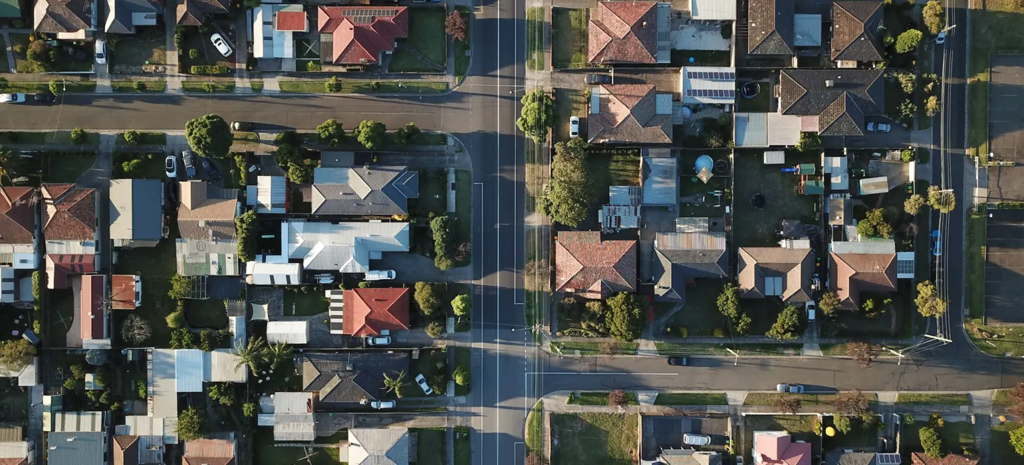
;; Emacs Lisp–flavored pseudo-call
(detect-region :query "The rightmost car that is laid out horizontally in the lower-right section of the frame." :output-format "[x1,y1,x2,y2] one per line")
[775,382,804,394]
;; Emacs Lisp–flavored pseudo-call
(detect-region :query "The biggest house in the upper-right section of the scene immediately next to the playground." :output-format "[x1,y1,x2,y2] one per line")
[731,69,885,147]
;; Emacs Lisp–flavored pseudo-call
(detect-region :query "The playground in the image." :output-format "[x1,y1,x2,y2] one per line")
[781,164,824,194]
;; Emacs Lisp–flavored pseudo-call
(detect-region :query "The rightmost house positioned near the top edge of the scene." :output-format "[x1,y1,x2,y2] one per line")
[828,0,893,68]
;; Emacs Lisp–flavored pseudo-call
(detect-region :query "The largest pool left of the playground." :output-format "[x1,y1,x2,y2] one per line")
[694,154,713,172]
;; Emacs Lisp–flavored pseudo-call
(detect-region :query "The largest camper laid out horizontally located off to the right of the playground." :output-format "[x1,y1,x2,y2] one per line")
[850,177,887,193]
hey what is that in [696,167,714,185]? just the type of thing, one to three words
umbrella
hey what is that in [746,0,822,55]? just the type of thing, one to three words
house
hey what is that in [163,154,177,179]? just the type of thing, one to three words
car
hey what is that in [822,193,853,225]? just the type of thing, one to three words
shed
